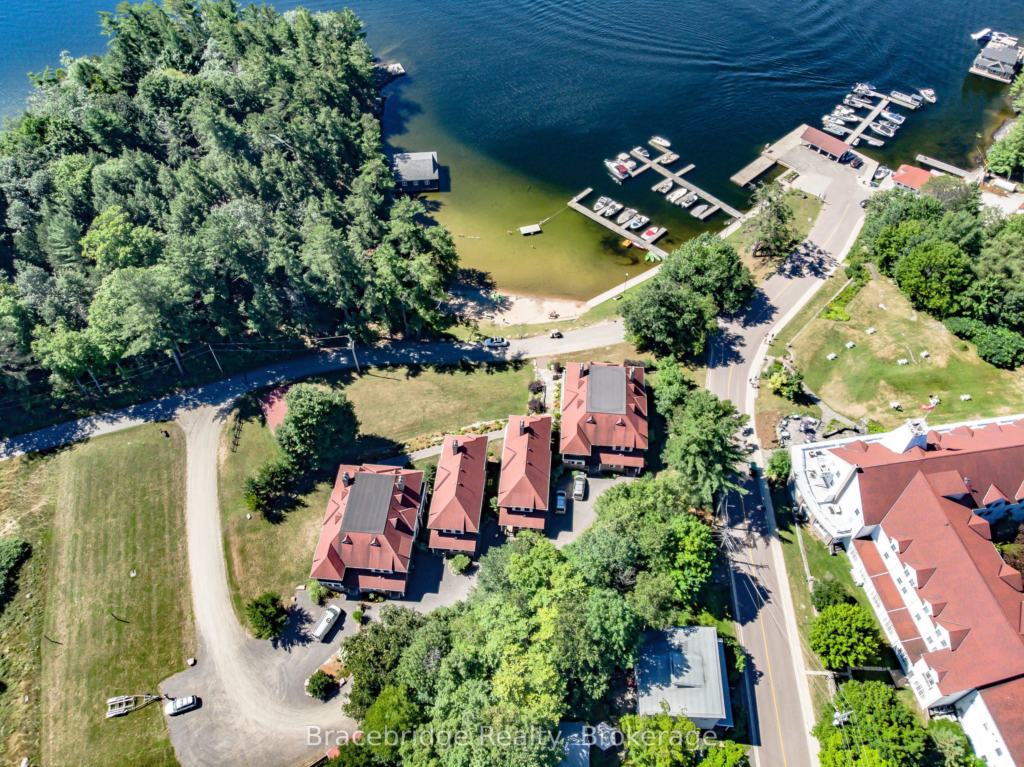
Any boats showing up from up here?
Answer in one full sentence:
Yes, a boat can be made out from above.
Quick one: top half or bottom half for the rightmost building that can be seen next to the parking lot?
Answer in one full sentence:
It is in the bottom half that the rightmost building that can be seen next to the parking lot appears.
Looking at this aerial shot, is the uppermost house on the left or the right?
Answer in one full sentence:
You can find the uppermost house on the right side of the picture.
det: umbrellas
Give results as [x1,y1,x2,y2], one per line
[798,418,812,431]
[804,431,818,443]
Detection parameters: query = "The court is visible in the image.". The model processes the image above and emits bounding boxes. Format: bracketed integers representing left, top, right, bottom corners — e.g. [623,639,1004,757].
[259,385,311,438]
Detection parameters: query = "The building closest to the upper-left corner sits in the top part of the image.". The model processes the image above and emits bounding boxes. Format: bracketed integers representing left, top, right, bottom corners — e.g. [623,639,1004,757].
[393,152,440,193]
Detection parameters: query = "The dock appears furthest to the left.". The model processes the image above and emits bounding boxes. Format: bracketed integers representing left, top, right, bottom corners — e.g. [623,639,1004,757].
[567,188,670,259]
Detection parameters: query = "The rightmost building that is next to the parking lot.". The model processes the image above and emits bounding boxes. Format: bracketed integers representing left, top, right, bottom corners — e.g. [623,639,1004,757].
[790,400,1024,767]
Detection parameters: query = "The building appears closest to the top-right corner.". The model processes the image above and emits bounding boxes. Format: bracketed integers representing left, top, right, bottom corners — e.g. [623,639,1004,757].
[969,38,1024,83]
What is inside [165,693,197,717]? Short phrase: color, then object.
white car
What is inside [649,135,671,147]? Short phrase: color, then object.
white boat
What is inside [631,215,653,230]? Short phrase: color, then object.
white boat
